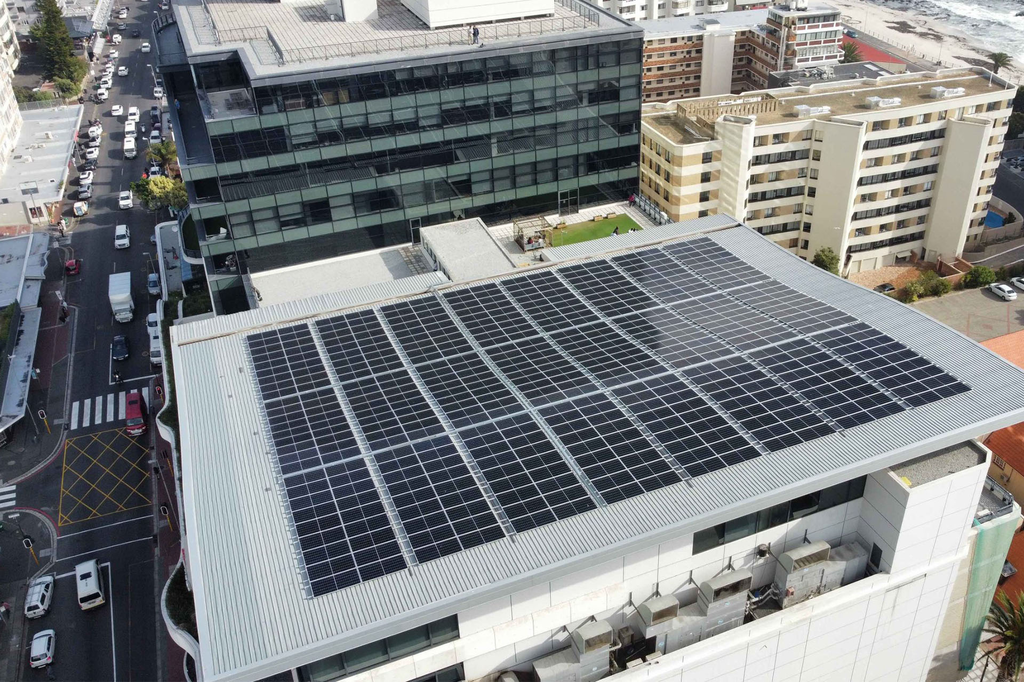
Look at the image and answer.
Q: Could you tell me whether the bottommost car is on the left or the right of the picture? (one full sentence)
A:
The bottommost car appears in the left half of the scene.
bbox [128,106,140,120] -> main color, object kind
white vehicle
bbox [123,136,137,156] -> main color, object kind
white vehicle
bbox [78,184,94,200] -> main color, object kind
gray car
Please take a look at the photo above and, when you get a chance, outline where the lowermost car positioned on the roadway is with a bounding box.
[26,627,60,674]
